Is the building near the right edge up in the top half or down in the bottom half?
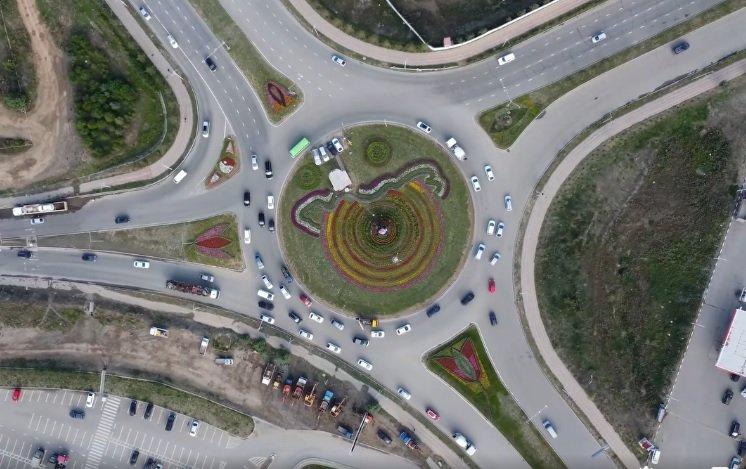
bottom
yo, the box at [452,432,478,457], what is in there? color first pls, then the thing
white truck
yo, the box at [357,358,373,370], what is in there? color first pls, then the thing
white vehicle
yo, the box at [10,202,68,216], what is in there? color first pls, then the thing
white vehicle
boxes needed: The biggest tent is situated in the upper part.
[329,169,352,192]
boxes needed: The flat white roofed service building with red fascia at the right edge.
[708,308,746,377]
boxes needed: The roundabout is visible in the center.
[240,84,512,355]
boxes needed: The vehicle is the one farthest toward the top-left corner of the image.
[138,6,153,21]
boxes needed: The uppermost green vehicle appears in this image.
[288,137,311,158]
